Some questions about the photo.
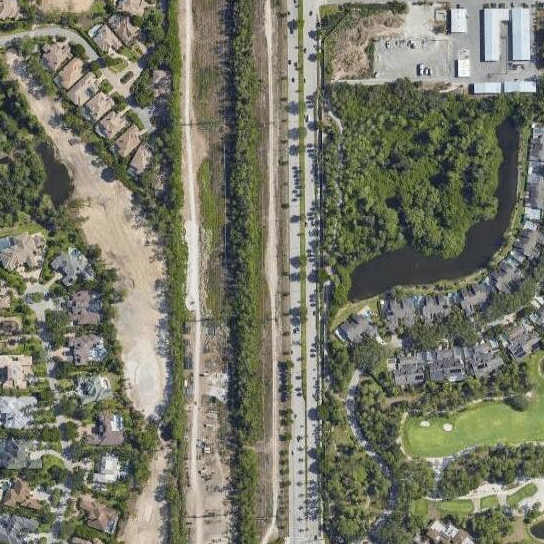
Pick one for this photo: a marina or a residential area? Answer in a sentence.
This image shows a residential area.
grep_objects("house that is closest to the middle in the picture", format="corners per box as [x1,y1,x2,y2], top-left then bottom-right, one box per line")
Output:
[336,313,379,343]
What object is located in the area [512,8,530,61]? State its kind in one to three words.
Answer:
shed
